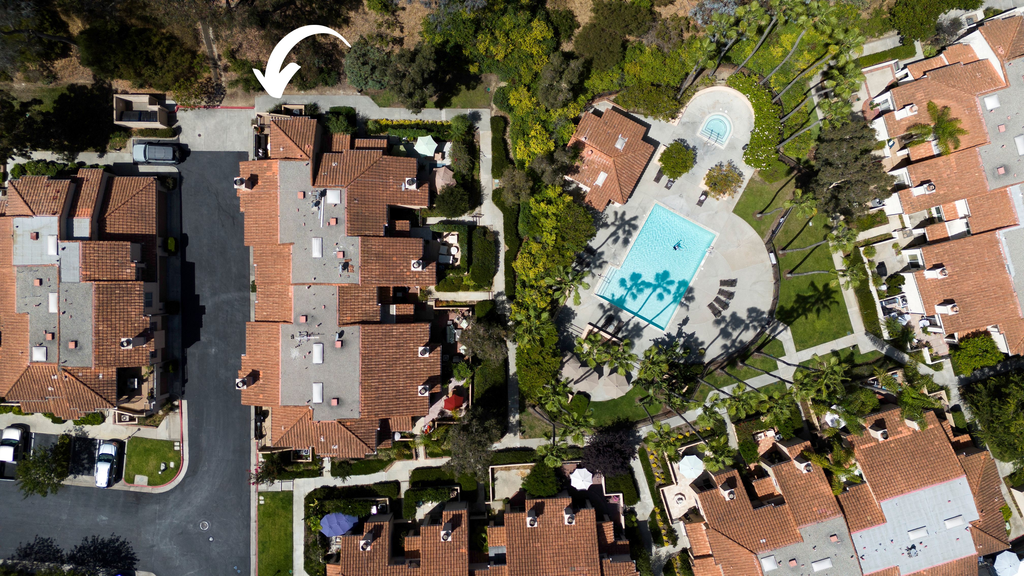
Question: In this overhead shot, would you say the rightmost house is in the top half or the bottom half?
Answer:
top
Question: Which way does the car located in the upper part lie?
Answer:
horizontally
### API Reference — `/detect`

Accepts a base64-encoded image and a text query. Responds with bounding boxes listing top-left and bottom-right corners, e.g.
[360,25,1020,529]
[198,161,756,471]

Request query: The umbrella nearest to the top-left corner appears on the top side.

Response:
[392,144,408,157]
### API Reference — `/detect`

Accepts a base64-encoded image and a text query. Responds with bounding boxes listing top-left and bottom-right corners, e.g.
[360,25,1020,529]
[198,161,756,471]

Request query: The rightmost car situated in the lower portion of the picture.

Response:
[92,443,118,489]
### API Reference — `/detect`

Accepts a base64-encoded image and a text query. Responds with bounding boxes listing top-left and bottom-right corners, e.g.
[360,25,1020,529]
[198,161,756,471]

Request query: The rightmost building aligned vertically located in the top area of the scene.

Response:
[869,14,1024,355]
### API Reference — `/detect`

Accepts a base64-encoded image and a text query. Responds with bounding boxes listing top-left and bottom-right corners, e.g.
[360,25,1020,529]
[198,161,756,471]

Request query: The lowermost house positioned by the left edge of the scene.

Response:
[0,168,180,424]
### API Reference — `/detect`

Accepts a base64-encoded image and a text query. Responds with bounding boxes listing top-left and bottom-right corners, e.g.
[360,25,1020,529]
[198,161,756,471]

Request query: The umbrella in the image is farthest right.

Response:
[992,551,1020,576]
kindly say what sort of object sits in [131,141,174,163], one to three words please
car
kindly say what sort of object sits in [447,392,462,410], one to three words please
umbrella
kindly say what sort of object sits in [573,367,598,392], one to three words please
umbrella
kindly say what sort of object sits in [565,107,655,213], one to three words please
building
